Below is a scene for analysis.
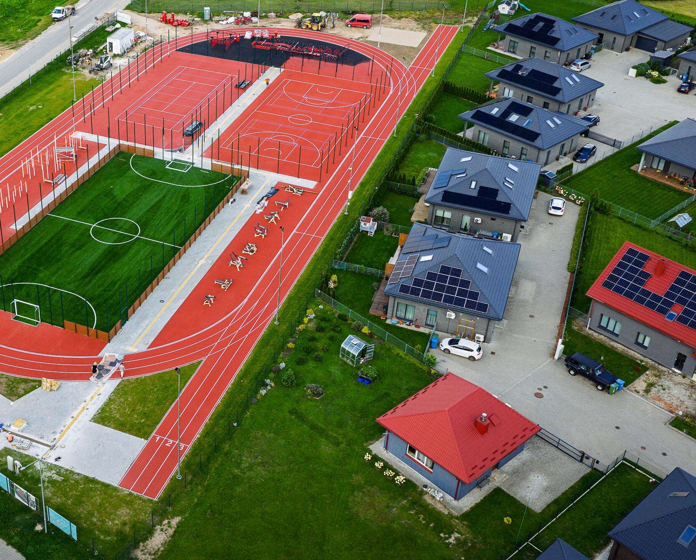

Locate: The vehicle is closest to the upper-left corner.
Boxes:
[54,2,77,18]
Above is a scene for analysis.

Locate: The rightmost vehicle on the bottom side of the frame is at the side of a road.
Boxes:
[563,352,615,390]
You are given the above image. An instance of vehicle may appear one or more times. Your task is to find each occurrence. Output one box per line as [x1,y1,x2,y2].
[54,2,77,18]
[574,141,600,162]
[549,196,567,215]
[440,339,484,363]
[583,112,606,127]
[84,51,112,71]
[678,81,696,94]
[344,14,374,30]
[289,11,333,31]
[568,58,593,72]
[563,352,615,390]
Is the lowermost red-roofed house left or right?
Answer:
right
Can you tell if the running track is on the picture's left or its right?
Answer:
left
